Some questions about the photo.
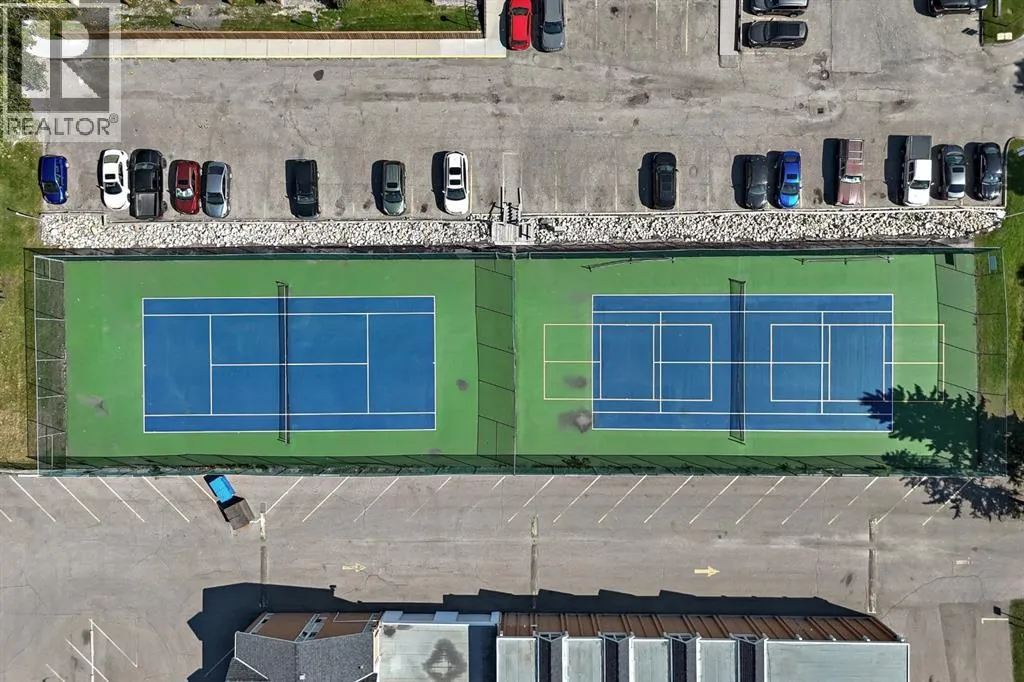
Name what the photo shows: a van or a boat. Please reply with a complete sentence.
The image shows a van.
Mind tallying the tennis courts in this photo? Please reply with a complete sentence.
Altogether the scene contains 2 tennis courts.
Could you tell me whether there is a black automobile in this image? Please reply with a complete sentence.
Yes, a black automobile appears in the view.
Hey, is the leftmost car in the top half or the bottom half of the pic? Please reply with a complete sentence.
The leftmost car is in the top half of the image.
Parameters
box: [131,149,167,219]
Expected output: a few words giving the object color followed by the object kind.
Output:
black truck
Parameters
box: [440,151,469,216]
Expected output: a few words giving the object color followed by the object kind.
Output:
white car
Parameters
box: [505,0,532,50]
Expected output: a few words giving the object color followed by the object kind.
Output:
red car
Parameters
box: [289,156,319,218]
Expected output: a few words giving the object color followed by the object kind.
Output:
black van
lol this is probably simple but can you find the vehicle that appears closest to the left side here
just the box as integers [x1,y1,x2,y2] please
[39,154,70,205]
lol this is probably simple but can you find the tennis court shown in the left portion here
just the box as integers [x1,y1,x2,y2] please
[65,257,514,467]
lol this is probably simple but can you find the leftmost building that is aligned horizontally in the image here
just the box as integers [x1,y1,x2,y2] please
[232,611,384,682]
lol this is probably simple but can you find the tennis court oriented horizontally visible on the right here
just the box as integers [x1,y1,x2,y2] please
[514,254,976,467]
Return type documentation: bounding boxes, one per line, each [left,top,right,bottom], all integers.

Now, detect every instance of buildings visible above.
[496,610,910,682]
[232,611,384,682]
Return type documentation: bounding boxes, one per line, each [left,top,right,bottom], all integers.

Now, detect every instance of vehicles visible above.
[440,151,469,216]
[172,159,203,215]
[897,133,933,208]
[749,16,809,48]
[131,149,167,219]
[39,154,70,205]
[744,154,773,210]
[536,0,564,50]
[835,135,868,207]
[203,160,232,218]
[505,0,532,50]
[378,159,405,215]
[749,0,810,17]
[651,151,680,210]
[775,150,804,209]
[972,141,1006,202]
[928,0,989,16]
[101,149,133,211]
[937,144,969,204]
[289,156,319,218]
